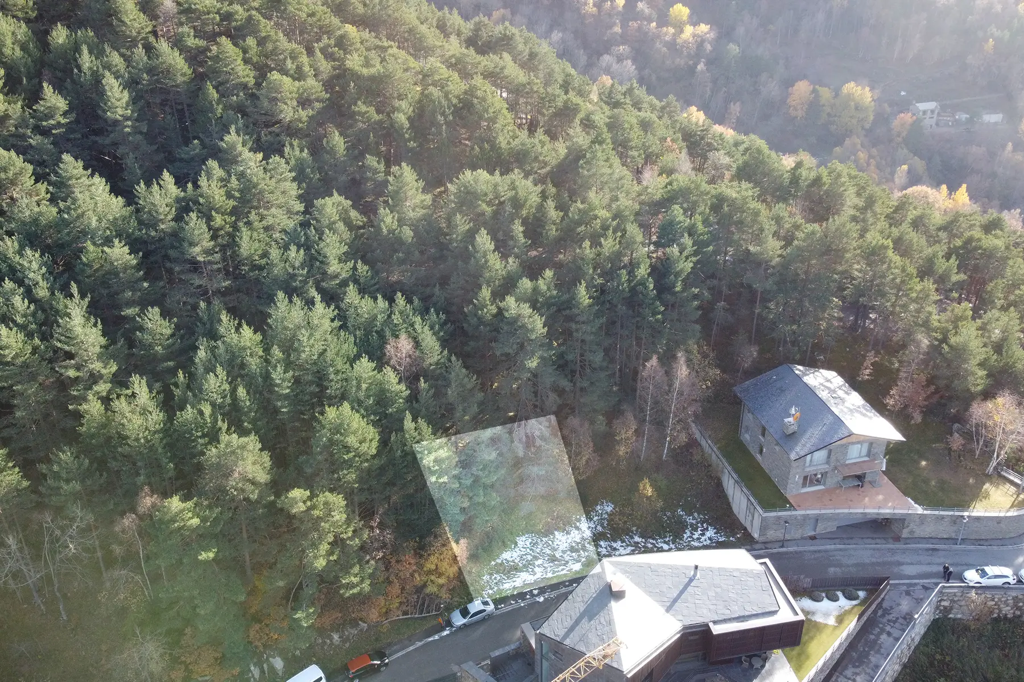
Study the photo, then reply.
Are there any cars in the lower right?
Yes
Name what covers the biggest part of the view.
trees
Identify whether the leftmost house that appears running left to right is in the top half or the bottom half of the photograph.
bottom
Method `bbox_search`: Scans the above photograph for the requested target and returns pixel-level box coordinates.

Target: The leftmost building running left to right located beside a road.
[538,549,804,682]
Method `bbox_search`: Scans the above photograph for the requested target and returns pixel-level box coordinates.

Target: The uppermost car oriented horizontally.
[957,562,1017,587]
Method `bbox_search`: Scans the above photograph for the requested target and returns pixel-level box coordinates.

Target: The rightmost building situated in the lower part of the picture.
[732,363,906,494]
